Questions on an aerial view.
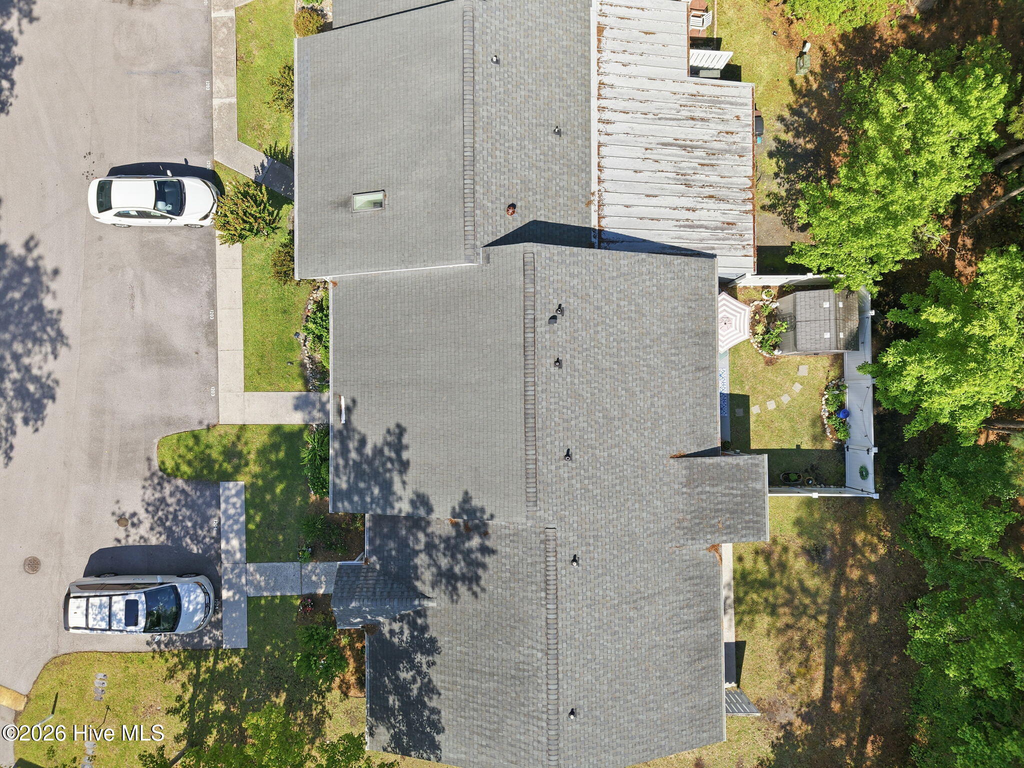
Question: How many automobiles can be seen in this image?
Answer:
2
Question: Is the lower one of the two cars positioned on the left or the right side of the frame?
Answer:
left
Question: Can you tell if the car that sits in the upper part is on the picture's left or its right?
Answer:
left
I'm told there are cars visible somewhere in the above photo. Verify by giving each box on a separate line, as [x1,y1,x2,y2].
[88,166,225,228]
[65,571,214,639]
